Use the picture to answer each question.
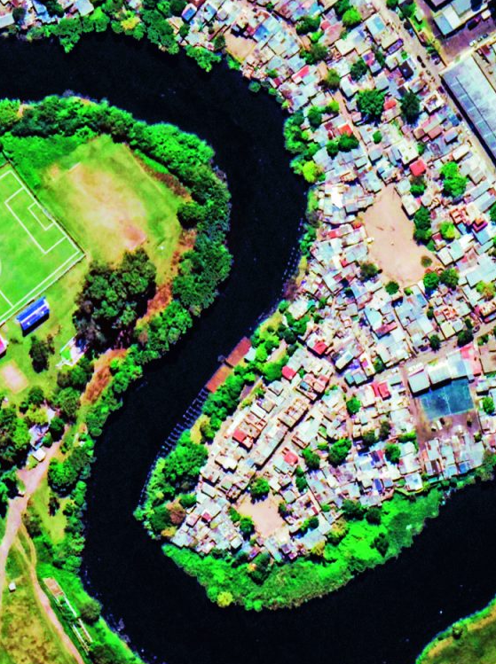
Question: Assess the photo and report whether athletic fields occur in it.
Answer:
Yes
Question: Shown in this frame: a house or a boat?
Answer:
house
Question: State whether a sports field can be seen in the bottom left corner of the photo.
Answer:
No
